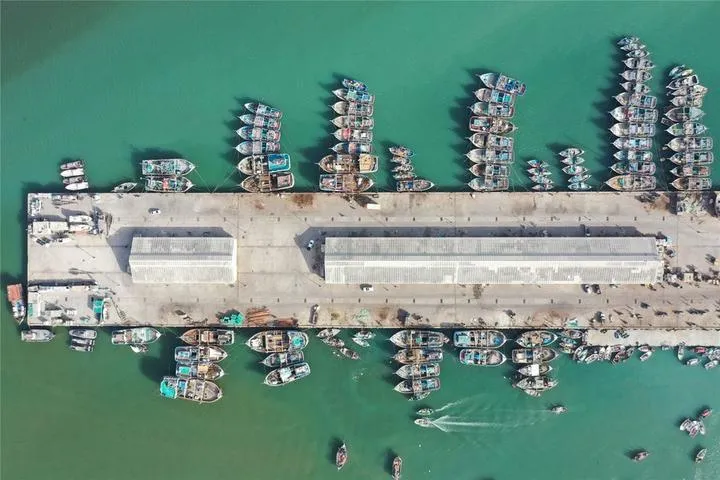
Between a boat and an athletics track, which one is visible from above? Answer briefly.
boat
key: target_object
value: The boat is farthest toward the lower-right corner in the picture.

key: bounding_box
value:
[695,448,707,462]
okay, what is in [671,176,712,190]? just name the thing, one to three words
boat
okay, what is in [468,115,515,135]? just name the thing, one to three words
boat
